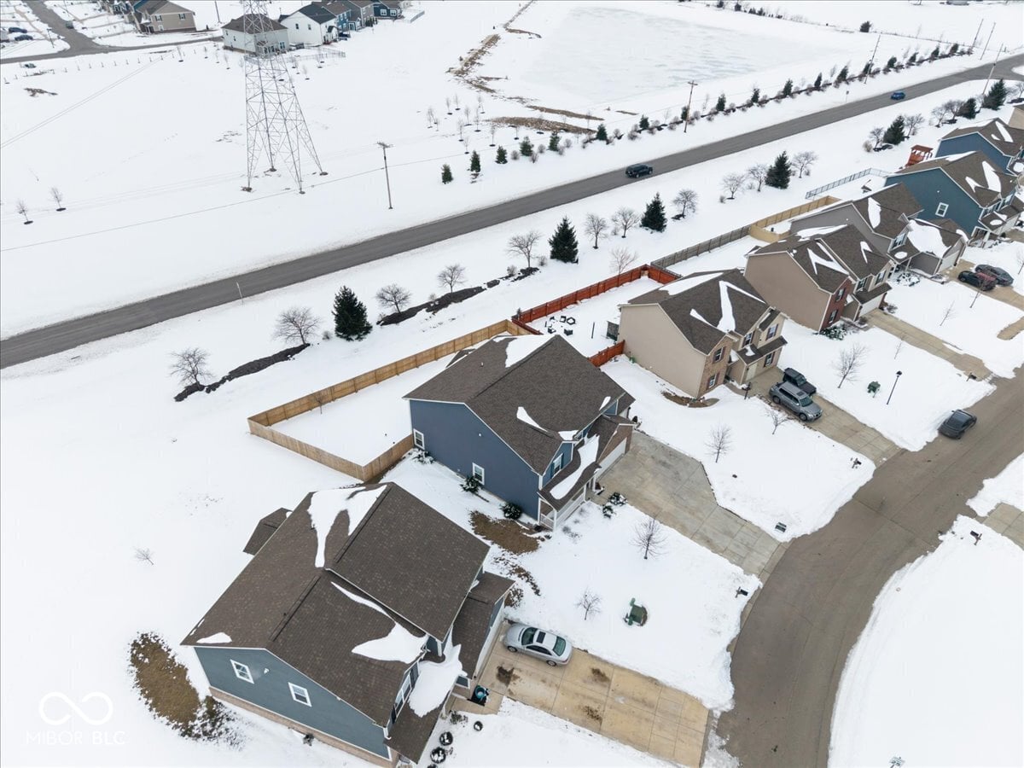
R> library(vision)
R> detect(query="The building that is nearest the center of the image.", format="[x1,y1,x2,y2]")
[400,333,642,534]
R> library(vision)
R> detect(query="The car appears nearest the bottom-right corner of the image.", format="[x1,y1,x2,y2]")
[937,410,975,439]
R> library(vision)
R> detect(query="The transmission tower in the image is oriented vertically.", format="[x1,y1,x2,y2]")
[238,0,324,193]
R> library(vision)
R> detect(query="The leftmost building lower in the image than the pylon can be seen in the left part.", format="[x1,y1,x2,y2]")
[176,482,518,768]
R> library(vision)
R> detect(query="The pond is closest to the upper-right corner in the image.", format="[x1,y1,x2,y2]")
[507,6,855,105]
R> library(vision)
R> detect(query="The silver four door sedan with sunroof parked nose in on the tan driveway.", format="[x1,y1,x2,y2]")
[501,622,573,667]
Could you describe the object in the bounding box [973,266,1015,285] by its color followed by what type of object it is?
gray car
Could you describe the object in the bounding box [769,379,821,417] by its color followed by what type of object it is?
gray car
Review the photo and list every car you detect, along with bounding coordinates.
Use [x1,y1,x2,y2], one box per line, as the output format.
[769,379,821,417]
[973,266,1015,285]
[937,410,975,439]
[955,271,999,291]
[626,162,652,179]
[65,21,74,28]
[776,362,822,398]
[890,92,906,101]
[501,622,573,667]
[12,26,27,33]
[14,34,34,41]
[334,31,349,39]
